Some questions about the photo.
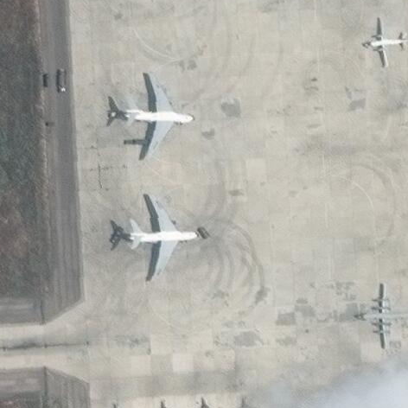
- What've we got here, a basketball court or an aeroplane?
aeroplane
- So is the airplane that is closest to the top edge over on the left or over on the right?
right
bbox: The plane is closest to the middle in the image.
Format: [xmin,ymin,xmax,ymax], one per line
[120,192,196,279]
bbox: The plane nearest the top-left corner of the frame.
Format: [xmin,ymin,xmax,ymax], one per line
[117,73,193,159]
